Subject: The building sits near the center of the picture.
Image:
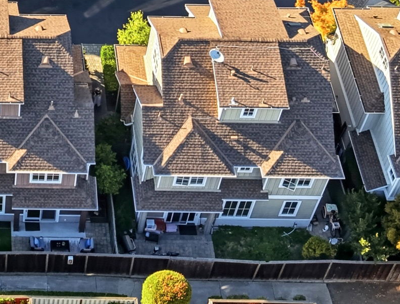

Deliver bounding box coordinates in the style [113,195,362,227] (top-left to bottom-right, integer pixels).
[117,1,343,241]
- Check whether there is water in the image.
No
